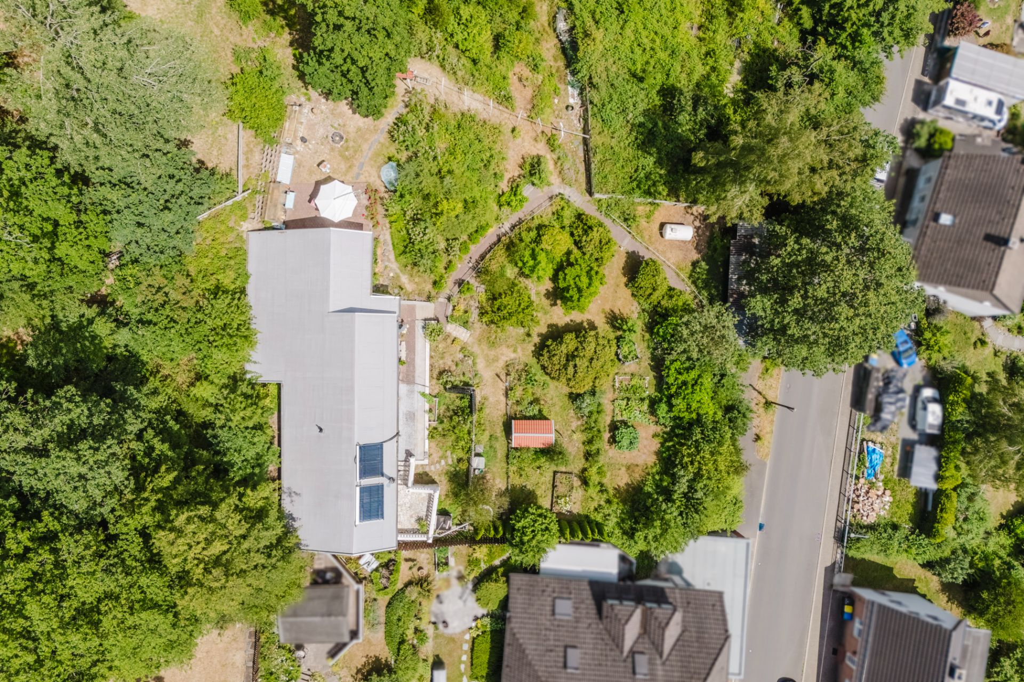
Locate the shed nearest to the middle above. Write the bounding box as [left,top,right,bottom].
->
[512,418,555,449]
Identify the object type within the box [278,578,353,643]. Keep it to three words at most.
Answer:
shed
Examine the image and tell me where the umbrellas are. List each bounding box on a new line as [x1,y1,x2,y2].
[317,181,375,223]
